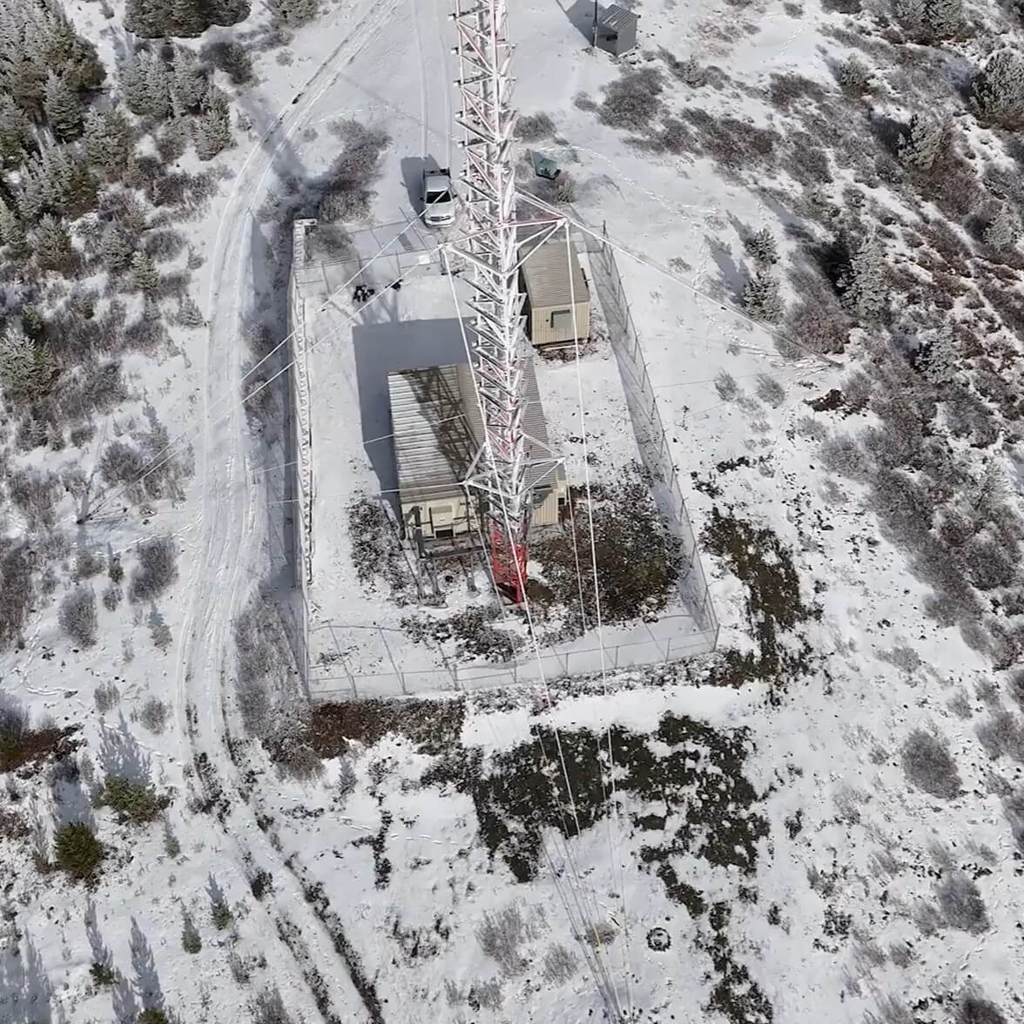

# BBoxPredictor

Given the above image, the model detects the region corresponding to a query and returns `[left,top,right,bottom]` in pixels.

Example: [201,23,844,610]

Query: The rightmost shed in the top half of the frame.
[592,3,642,58]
